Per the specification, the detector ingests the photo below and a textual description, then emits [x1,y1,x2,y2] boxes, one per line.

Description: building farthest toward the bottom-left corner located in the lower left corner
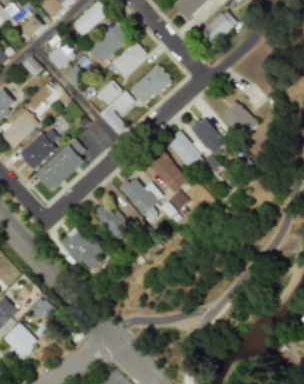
[4,324,36,356]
